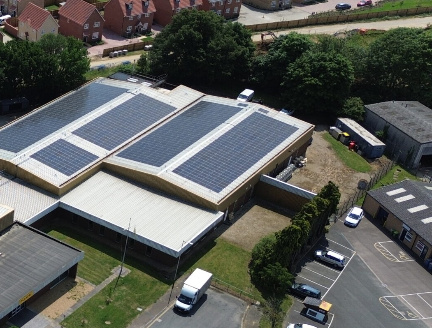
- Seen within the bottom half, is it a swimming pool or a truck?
truck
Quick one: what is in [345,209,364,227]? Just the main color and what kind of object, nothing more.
white car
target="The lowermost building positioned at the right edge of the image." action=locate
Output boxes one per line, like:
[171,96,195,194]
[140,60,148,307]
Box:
[363,176,432,258]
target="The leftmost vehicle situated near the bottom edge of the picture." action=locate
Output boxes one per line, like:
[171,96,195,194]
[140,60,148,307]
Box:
[173,267,213,315]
